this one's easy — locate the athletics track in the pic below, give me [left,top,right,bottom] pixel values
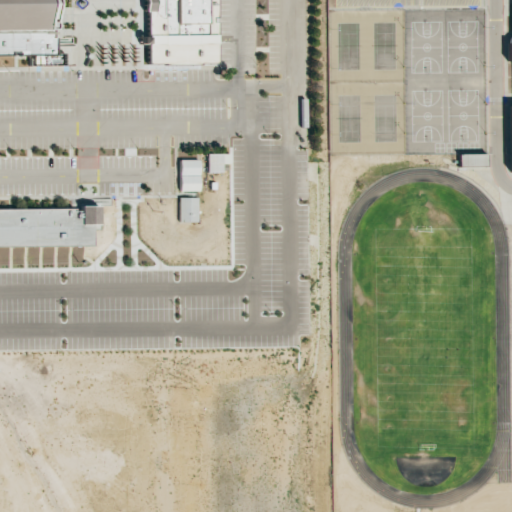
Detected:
[338,168,512,508]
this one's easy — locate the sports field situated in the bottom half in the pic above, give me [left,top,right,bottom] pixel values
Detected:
[352,181,497,494]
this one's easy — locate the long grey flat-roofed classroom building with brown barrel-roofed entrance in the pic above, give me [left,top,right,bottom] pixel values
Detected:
[0,206,103,246]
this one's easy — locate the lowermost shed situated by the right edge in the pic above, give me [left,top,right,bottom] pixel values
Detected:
[460,154,490,166]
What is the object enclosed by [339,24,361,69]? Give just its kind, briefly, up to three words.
tennis court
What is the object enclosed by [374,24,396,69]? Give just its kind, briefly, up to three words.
tennis court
